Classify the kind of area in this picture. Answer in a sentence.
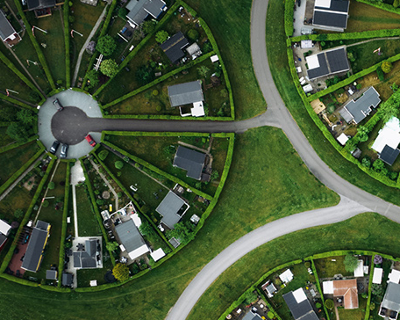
What you see here is a residential area.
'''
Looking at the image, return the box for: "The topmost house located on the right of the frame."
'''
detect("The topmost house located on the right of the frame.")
[313,0,350,28]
